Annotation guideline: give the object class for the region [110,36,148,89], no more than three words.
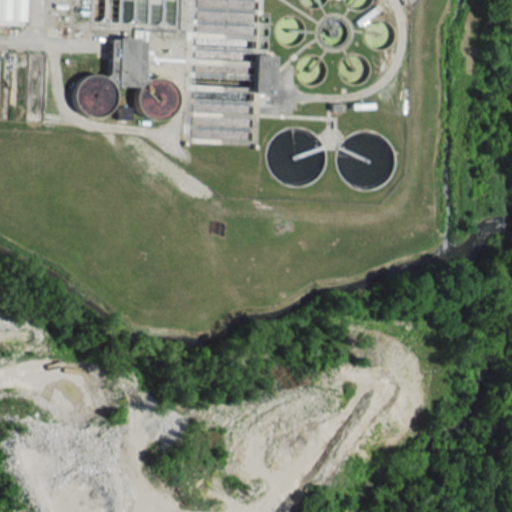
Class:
building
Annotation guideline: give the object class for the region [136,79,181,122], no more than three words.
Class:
storage tank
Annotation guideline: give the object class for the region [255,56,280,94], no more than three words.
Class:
building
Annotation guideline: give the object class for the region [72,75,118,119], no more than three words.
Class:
storage tank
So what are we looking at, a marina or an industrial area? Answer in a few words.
industrial area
